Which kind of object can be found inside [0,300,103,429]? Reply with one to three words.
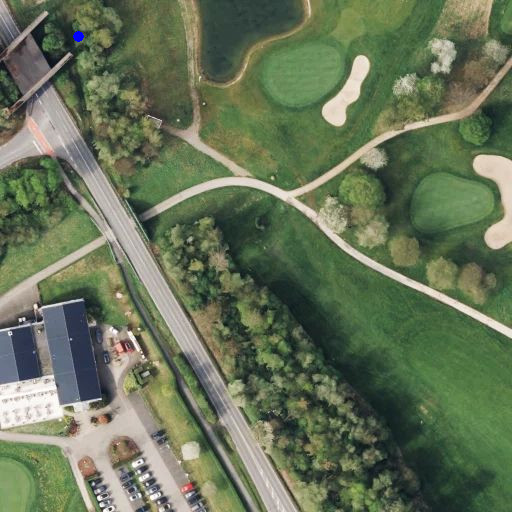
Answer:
building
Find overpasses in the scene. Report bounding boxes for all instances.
[0,12,73,116]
